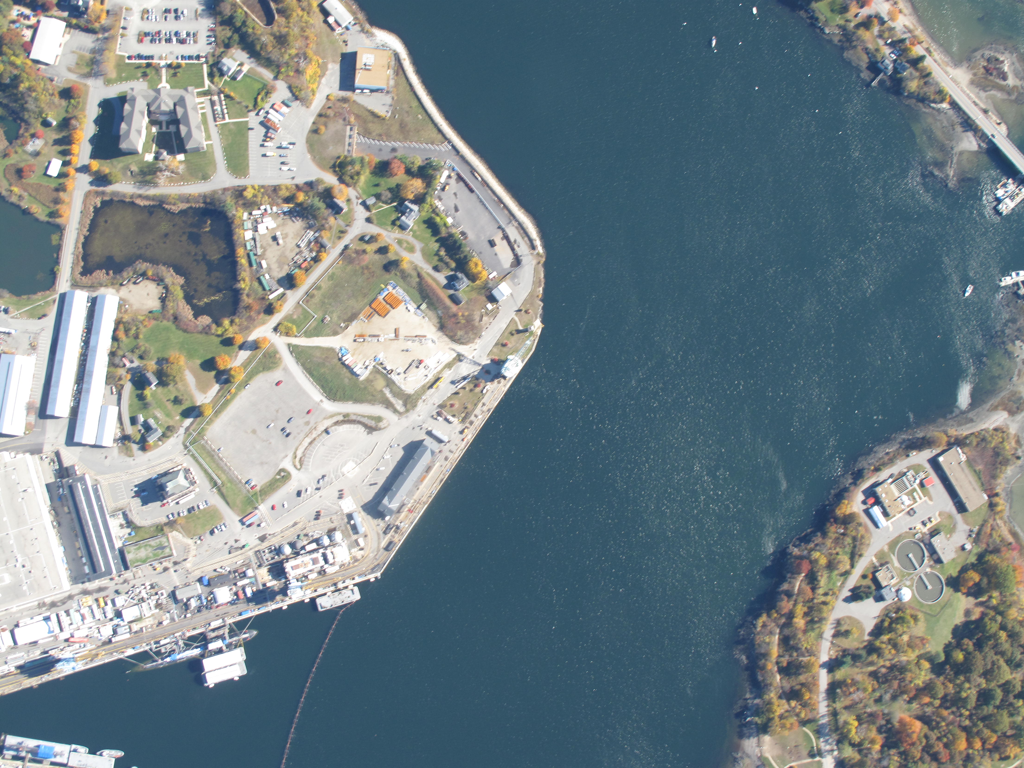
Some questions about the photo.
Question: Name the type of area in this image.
port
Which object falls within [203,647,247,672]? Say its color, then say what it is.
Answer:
white ship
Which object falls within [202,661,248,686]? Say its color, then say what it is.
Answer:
white ship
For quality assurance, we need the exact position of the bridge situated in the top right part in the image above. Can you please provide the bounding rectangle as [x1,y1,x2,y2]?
[931,68,1024,178]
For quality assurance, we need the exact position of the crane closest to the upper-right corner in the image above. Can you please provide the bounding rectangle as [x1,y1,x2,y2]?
[497,325,543,383]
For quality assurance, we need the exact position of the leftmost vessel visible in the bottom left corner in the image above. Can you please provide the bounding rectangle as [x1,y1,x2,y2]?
[3,735,72,765]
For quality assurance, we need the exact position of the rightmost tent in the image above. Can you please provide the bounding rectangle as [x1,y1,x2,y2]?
[213,581,235,604]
